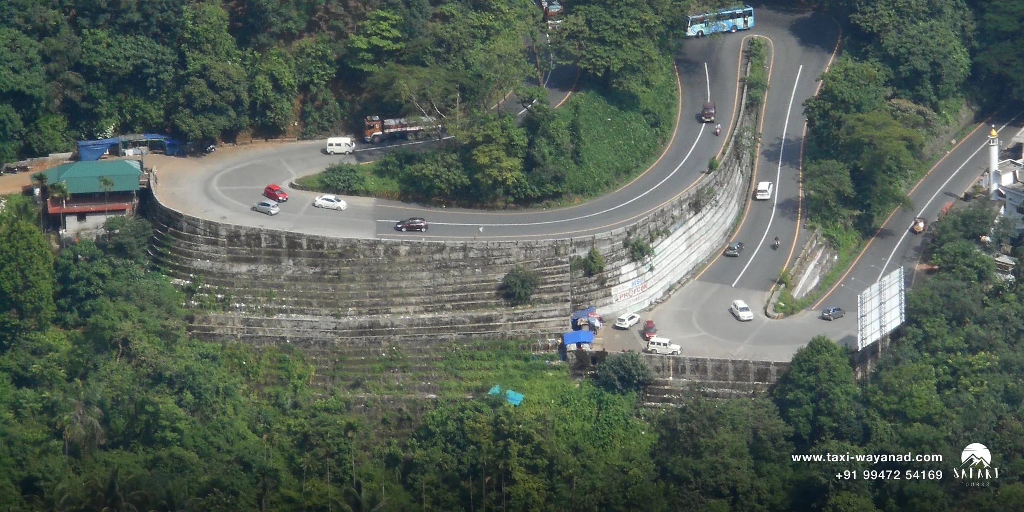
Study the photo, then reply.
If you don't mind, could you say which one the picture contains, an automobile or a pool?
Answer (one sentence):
There is an automobile in the scene.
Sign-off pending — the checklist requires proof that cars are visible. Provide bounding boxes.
[611,309,644,332]
[260,179,292,202]
[700,97,717,121]
[817,302,849,321]
[644,332,684,355]
[249,196,283,215]
[754,179,774,202]
[721,236,746,258]
[730,291,757,322]
[395,213,430,232]
[312,191,350,211]
[641,314,659,339]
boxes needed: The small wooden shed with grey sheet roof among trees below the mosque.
[994,252,1024,280]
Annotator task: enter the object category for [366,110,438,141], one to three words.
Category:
truck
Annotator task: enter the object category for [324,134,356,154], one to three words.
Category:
vehicle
